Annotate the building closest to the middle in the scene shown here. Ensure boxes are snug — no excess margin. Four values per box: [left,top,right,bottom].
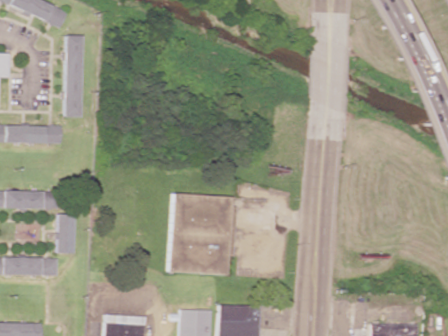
[166,194,236,276]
